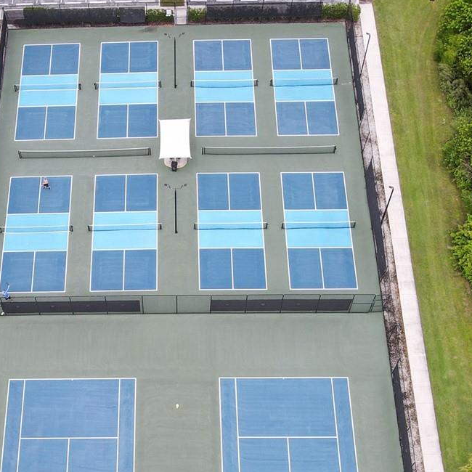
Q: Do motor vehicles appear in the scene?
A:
No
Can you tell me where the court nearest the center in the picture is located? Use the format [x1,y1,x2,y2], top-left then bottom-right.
[196,172,267,290]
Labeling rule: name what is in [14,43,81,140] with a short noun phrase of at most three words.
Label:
sports court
